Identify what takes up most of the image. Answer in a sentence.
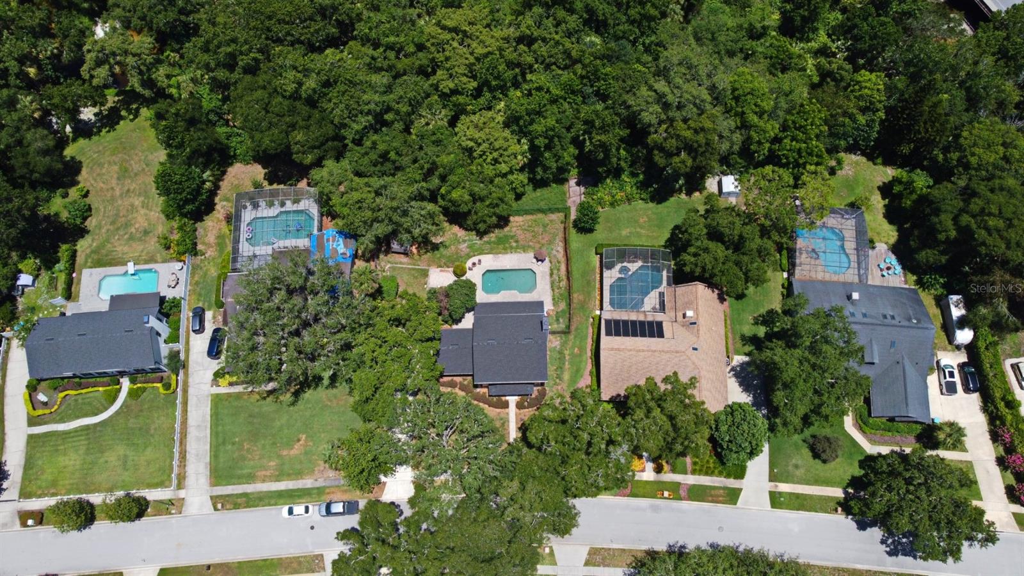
The bulk of the photo consists of trees.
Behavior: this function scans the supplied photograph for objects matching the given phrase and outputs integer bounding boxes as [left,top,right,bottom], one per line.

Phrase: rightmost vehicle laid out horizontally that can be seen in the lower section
[319,499,360,517]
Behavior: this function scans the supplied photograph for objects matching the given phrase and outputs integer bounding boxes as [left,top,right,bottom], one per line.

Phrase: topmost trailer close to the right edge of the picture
[937,299,974,353]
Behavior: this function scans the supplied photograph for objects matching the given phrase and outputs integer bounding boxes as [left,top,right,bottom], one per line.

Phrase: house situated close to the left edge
[26,294,173,381]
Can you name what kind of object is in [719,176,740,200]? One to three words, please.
shed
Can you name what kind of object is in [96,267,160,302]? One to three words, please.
swimming pool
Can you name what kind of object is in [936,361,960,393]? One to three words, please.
truck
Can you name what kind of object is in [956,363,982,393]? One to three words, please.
car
